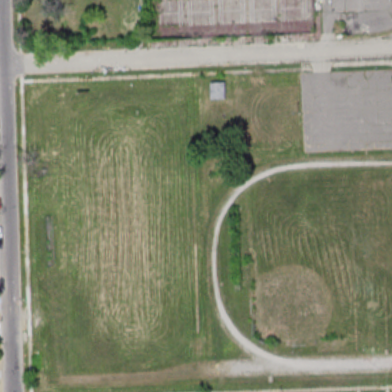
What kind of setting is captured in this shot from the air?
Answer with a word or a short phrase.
sports ground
